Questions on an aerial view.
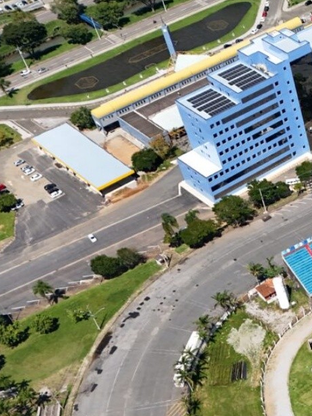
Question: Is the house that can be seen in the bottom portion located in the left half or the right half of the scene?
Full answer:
It is on the right.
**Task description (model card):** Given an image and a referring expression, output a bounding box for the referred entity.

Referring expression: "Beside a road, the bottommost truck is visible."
[182,337,204,361]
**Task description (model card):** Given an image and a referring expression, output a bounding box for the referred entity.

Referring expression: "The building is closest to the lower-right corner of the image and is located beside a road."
[254,278,276,307]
